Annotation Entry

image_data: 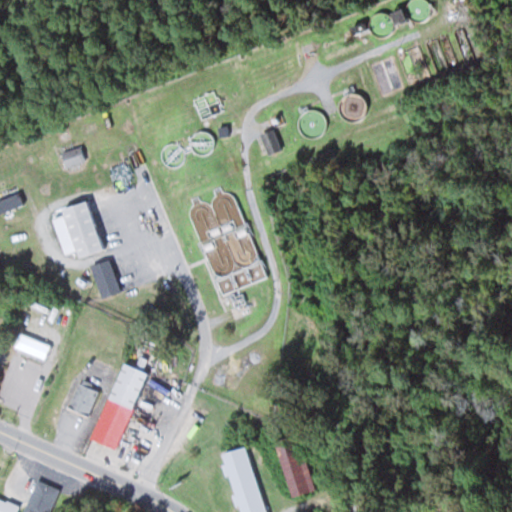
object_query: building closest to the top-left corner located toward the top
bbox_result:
[62,146,87,168]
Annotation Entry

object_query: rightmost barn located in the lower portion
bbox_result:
[276,444,314,498]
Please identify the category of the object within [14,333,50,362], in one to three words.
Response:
building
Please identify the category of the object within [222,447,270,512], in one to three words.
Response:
barn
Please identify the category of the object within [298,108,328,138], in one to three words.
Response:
storage tank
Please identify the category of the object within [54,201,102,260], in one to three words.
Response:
building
